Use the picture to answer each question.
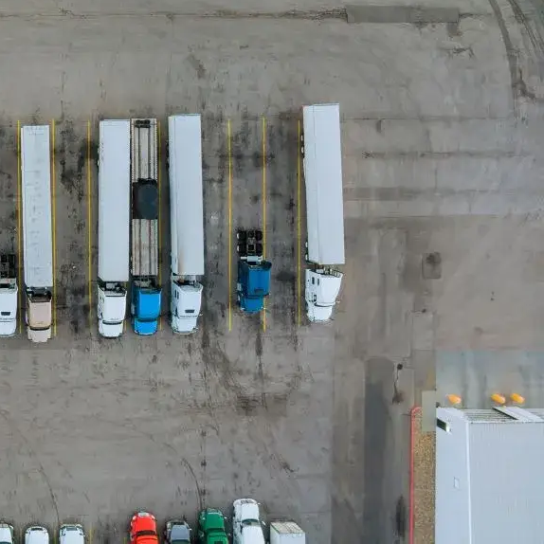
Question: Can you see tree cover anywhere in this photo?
No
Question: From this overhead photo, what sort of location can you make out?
parking lot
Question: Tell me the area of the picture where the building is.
bottom right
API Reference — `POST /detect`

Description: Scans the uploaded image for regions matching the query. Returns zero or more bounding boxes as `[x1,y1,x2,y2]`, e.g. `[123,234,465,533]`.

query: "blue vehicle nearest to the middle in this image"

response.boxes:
[237,232,271,313]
